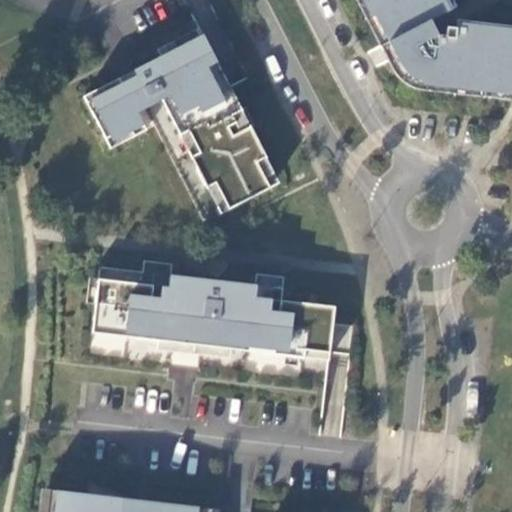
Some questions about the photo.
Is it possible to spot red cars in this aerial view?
Yes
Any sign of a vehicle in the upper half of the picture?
Yes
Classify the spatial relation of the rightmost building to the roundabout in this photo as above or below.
above it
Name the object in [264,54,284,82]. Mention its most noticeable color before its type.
white vehicle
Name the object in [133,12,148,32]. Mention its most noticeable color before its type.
white car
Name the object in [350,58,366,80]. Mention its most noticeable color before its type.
white car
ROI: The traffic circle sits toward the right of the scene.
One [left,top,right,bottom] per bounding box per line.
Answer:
[347,140,482,292]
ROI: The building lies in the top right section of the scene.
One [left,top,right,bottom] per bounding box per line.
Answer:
[361,0,512,102]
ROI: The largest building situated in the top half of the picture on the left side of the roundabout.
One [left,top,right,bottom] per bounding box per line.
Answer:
[84,32,280,216]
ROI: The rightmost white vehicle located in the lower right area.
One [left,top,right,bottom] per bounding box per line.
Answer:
[467,381,479,416]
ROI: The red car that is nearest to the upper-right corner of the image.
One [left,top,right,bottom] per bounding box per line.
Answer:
[295,108,311,128]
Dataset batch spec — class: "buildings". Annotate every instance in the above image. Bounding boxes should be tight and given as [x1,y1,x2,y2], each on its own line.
[84,32,280,216]
[39,488,216,512]
[361,0,512,102]
[86,260,336,373]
